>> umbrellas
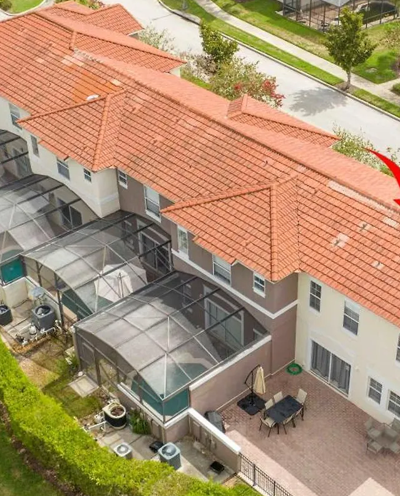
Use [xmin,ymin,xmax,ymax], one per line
[84,266,143,308]
[240,365,269,414]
